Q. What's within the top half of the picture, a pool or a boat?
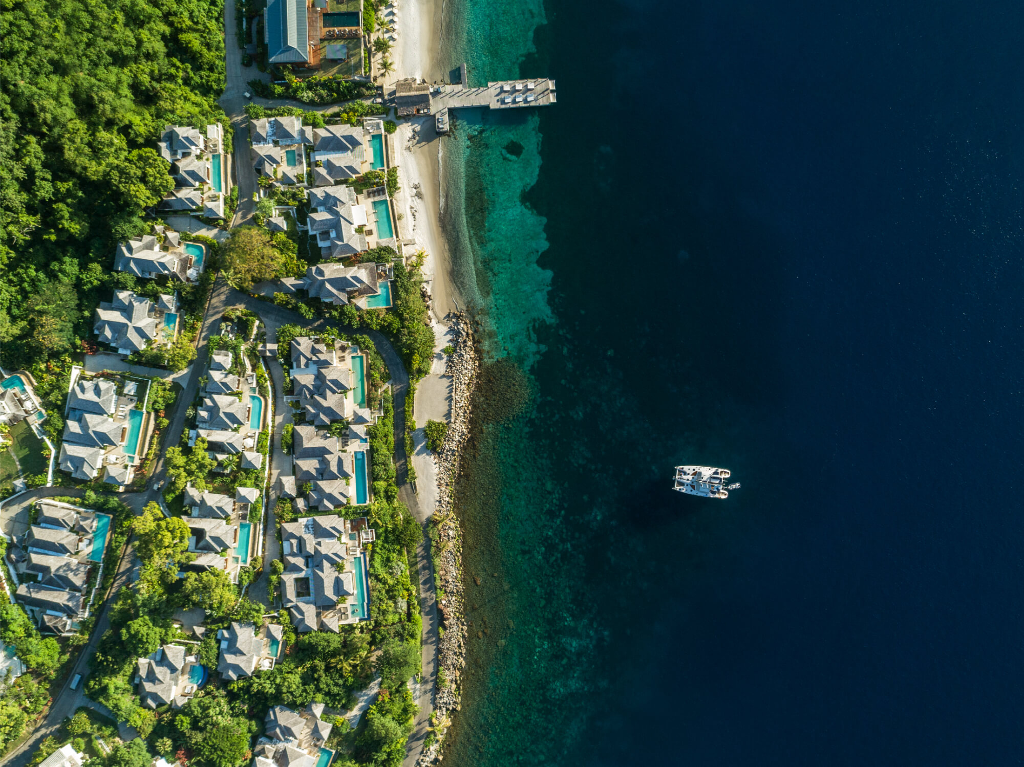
pool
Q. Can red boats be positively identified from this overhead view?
No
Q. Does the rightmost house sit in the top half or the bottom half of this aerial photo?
top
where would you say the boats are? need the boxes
[672,466,730,499]
[728,483,741,489]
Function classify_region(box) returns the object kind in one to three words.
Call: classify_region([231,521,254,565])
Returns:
swimming pool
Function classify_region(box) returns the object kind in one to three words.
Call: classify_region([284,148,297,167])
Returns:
swimming pool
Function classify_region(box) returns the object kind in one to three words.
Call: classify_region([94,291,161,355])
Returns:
house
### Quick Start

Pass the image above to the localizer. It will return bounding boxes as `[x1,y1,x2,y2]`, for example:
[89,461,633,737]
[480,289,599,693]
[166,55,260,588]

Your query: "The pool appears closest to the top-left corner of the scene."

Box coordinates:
[210,153,222,193]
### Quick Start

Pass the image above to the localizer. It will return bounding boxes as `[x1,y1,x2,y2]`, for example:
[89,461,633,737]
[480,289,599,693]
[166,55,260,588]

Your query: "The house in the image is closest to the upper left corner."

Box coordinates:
[156,125,221,212]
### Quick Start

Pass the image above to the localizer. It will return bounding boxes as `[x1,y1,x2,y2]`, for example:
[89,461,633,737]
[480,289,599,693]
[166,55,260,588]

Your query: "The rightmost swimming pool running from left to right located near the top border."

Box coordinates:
[323,11,360,27]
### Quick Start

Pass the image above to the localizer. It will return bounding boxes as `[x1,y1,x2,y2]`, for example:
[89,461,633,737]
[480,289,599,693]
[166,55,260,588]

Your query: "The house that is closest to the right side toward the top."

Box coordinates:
[395,80,432,121]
